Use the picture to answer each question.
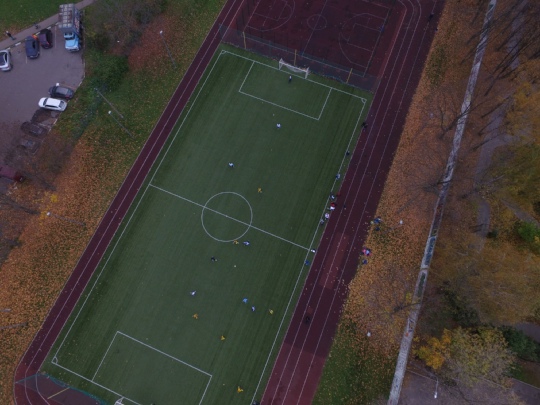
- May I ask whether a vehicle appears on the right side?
No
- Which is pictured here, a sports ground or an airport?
sports ground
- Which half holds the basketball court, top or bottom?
top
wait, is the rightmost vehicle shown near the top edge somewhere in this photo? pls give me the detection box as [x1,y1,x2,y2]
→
[59,9,84,55]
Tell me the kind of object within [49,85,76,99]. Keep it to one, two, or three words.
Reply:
car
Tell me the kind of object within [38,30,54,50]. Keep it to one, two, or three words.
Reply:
car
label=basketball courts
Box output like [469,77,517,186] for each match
[222,0,396,89]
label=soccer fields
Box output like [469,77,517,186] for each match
[38,42,374,405]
